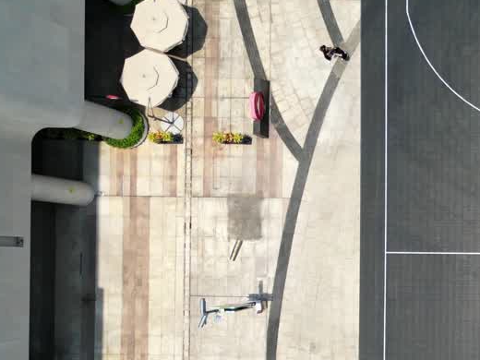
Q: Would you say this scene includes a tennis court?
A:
No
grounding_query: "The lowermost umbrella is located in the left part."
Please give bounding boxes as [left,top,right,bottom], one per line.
[119,48,183,134]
